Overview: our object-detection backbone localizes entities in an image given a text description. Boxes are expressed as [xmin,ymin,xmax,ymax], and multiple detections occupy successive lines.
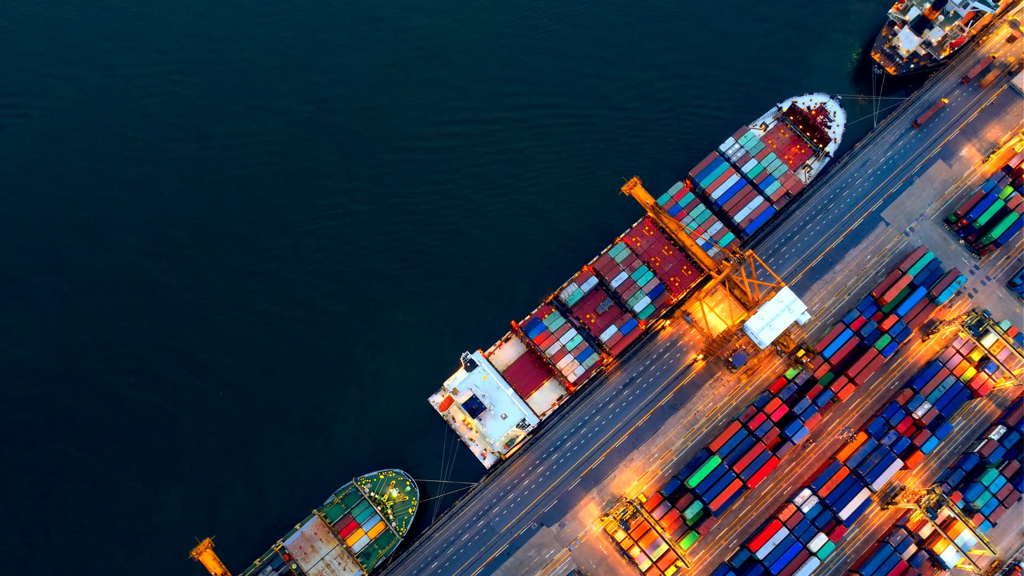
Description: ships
[863,0,1011,85]
[240,470,420,576]
[428,93,845,468]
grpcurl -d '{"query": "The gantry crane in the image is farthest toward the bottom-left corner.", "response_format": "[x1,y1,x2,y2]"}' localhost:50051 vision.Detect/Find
[187,539,235,576]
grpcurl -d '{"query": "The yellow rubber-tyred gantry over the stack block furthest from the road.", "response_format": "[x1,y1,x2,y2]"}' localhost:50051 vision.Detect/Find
[885,485,998,576]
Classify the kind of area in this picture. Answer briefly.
port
